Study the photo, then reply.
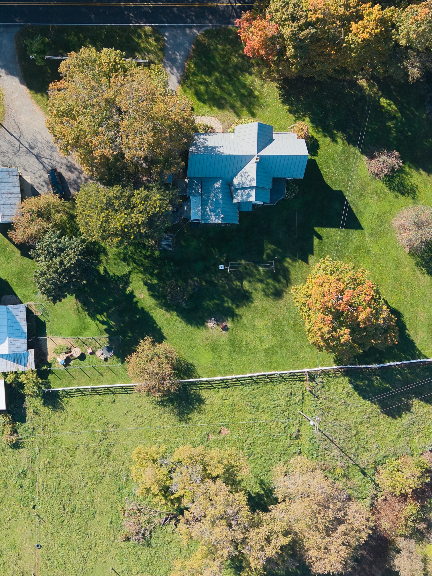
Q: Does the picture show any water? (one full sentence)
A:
No, there is no water in the image.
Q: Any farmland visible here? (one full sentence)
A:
Yes, some farmland is visible.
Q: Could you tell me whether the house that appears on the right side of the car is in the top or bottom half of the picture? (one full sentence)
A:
It is in the top half that the house that appears on the right side of the car appears.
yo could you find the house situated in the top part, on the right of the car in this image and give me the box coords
[185,121,309,223]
